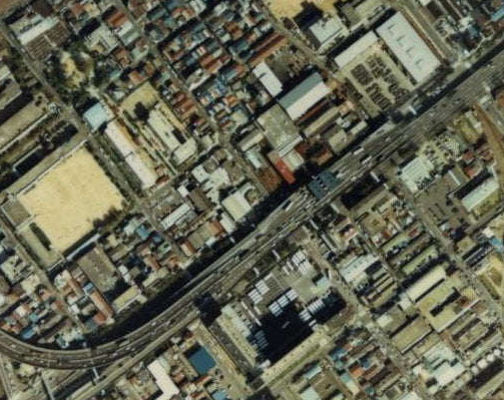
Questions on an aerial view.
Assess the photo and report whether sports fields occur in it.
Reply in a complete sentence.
Yes, the photo shows a sports field.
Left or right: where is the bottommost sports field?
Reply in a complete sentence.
The bottommost sports field appears in the left half of the scene.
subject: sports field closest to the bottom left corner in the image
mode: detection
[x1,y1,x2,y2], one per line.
[20,148,126,255]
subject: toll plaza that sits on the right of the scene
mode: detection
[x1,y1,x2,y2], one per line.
[309,169,337,198]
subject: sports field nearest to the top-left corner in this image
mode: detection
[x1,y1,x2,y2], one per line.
[123,82,163,117]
